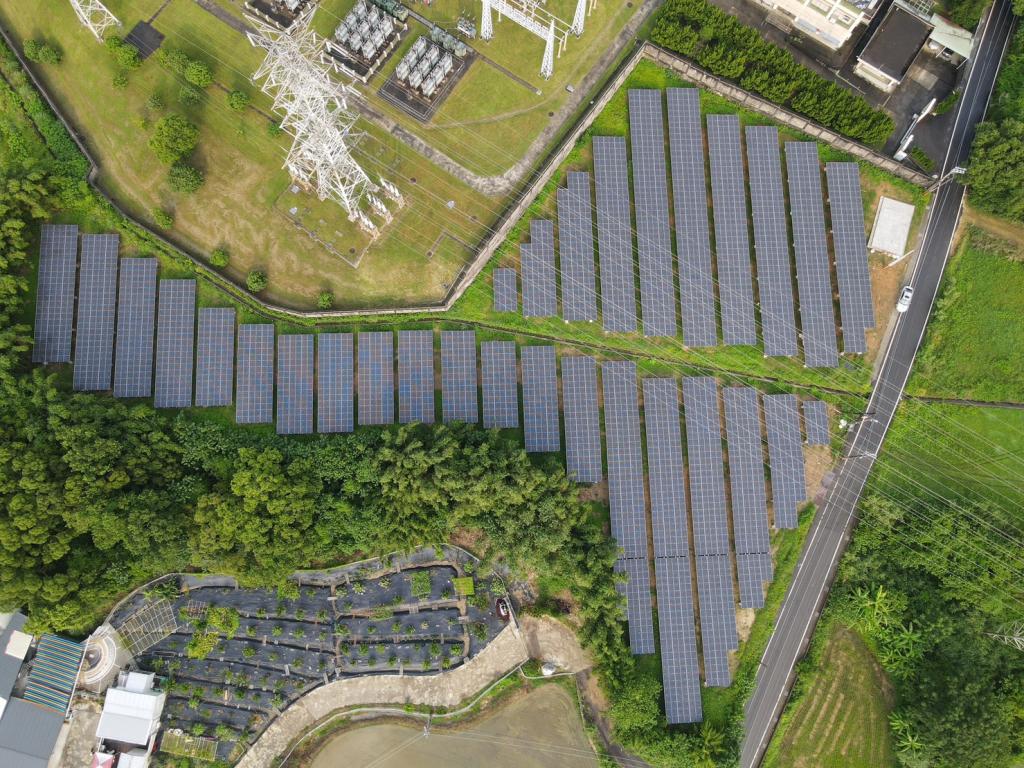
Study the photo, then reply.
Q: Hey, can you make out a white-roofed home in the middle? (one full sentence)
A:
No, no white-roofed home appears in the middle.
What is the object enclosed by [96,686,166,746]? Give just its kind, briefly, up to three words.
house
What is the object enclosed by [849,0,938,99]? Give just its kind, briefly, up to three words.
house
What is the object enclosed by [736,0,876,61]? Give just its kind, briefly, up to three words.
building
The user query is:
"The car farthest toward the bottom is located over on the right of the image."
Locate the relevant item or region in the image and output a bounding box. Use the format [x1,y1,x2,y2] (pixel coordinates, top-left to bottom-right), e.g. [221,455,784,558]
[892,286,911,312]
